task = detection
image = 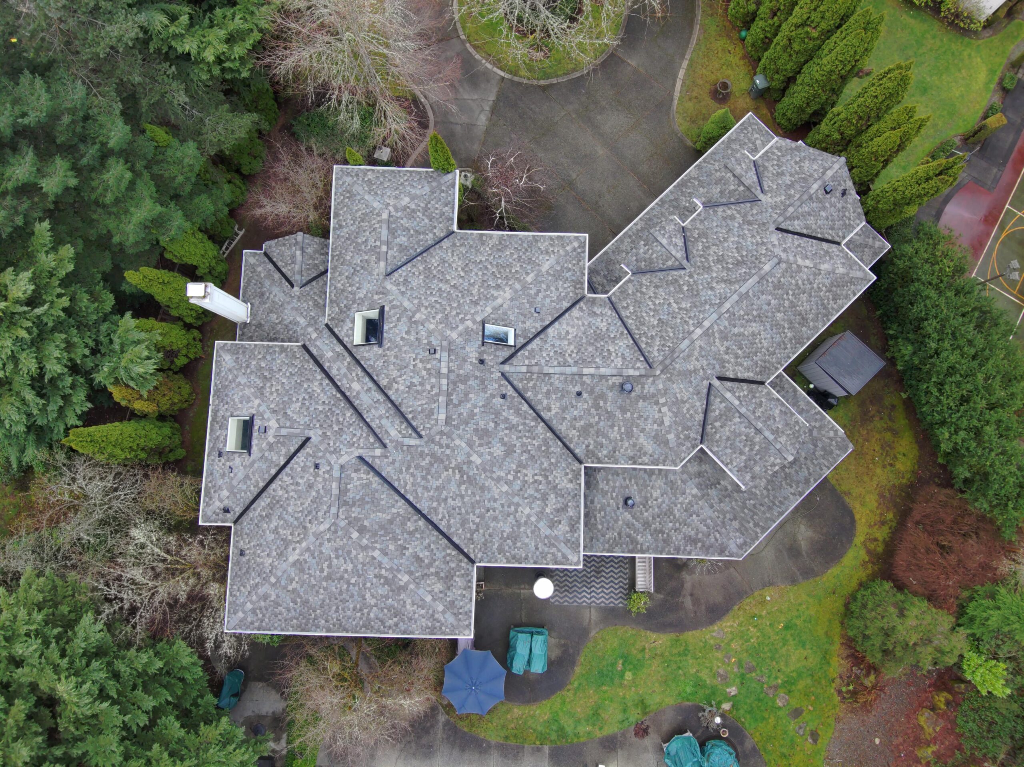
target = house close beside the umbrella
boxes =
[187,110,894,640]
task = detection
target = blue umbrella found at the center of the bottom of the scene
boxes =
[442,649,507,716]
